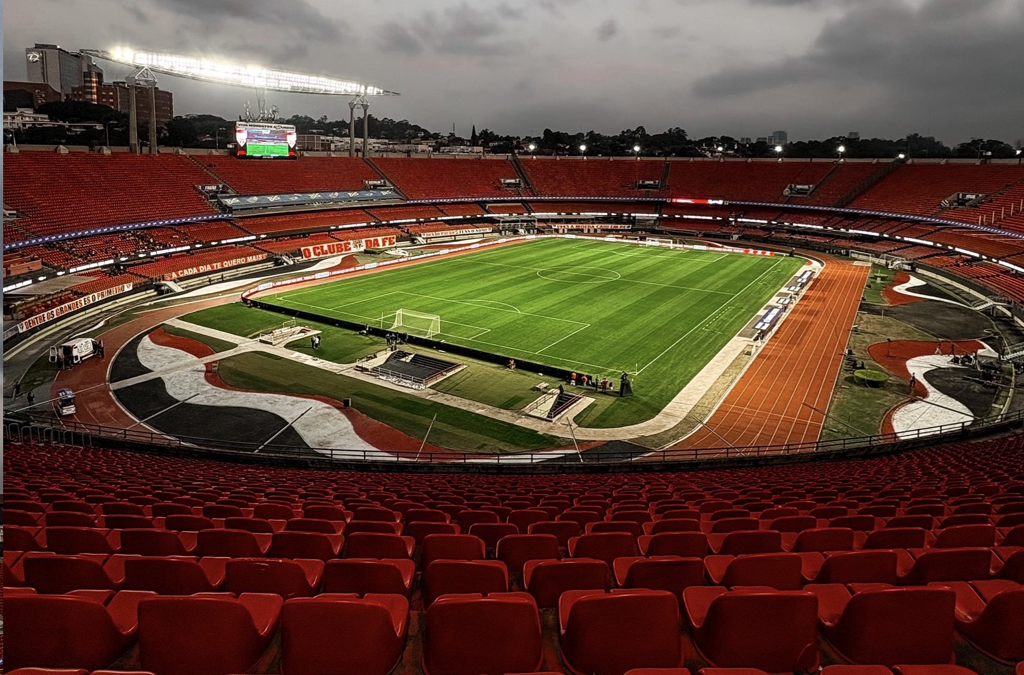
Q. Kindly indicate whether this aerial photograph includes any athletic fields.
Yes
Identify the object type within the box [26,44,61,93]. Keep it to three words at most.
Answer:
building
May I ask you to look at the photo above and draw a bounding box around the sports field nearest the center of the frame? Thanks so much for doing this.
[227,237,803,408]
